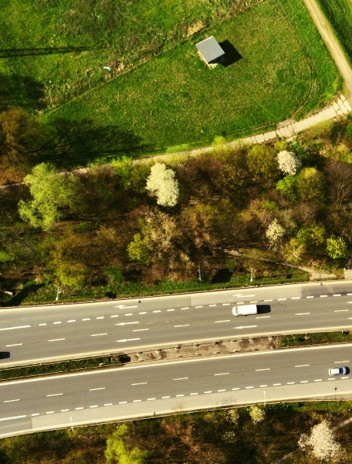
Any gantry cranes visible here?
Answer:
No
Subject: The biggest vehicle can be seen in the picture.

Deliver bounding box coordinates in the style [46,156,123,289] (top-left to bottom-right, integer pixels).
[233,303,259,316]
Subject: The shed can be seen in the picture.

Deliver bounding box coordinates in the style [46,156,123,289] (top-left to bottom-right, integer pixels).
[195,37,228,72]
